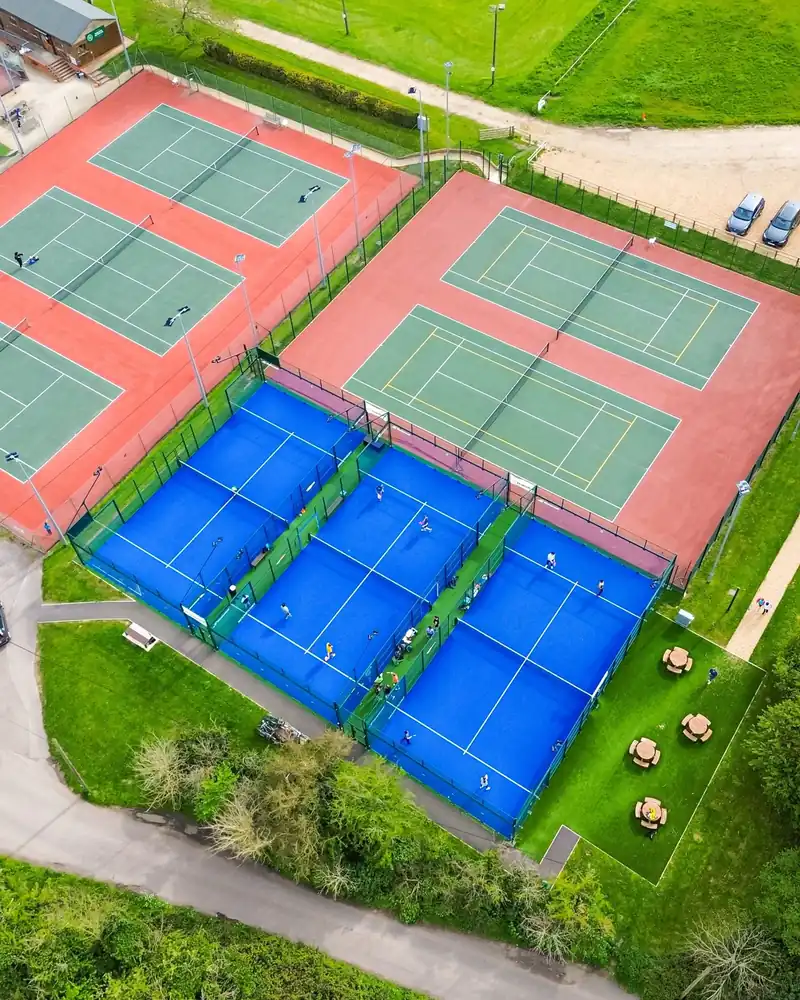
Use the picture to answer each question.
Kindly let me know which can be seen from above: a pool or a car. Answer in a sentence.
Looking from above, you can make out a car.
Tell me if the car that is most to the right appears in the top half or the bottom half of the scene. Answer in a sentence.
You can find the car that is most to the right in the top half.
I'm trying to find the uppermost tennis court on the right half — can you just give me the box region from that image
[441,206,758,391]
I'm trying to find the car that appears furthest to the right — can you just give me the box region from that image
[765,199,800,244]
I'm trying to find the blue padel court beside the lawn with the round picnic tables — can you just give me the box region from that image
[360,483,678,846]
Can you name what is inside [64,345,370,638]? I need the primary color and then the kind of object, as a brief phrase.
blue sports court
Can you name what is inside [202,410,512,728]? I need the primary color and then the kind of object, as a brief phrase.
blue sports court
